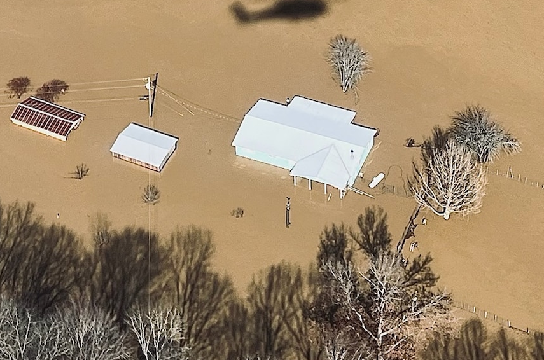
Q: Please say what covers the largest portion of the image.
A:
water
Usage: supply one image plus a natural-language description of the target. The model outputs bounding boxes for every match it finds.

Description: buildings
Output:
[230,95,377,198]
[107,123,181,173]
[8,97,87,141]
